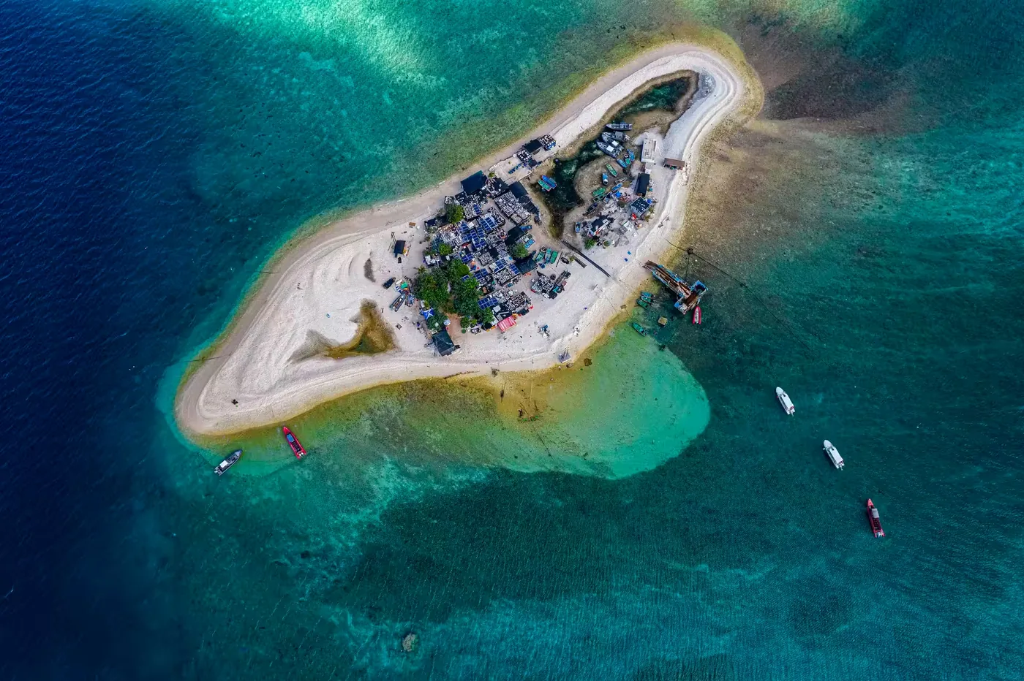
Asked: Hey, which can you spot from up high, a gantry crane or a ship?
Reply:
ship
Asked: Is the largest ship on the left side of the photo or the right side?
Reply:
right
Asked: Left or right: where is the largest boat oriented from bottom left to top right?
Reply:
left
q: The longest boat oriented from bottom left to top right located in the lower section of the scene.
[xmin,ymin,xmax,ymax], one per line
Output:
[212,450,242,478]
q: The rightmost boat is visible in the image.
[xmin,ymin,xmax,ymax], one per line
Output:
[869,499,887,542]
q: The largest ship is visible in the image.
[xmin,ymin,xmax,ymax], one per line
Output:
[643,260,709,315]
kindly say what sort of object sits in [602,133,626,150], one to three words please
boat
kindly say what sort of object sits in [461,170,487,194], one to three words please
house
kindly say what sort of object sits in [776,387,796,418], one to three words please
boat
